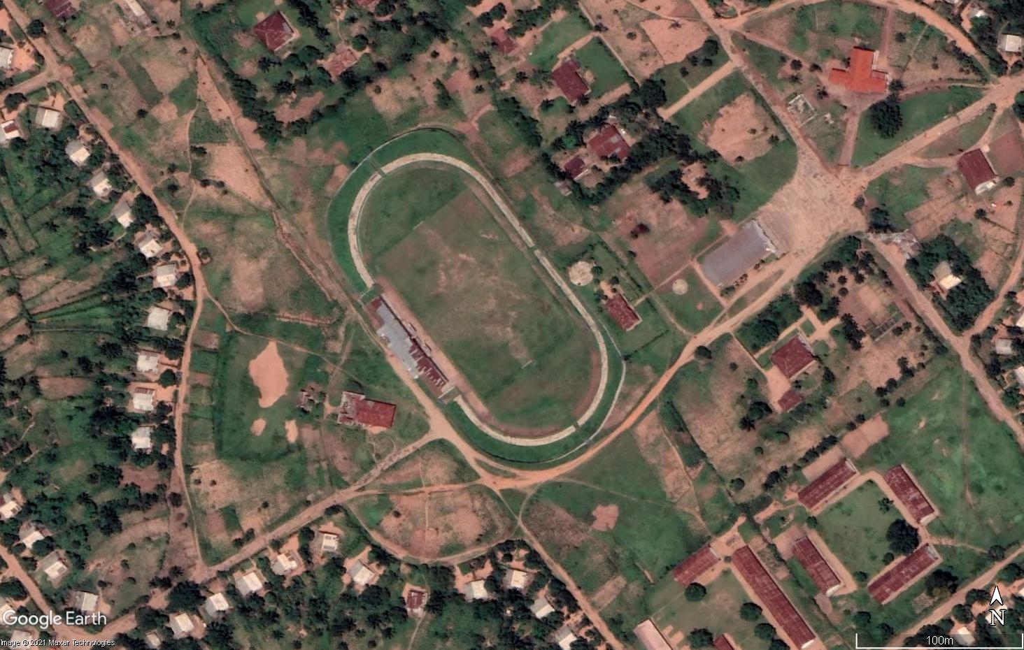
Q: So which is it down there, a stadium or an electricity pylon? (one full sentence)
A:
The image shows a stadium.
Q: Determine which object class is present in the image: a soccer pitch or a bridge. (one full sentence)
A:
This aerial view contains a soccer pitch.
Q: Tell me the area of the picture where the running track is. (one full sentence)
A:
The running track sits in the center section of the image.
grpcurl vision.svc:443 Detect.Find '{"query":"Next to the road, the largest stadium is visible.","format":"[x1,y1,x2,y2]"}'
[325,127,624,464]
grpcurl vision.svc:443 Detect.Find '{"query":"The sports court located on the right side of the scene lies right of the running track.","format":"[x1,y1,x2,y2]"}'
[842,415,886,458]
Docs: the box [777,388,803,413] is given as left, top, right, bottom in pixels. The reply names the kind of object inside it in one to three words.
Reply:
shed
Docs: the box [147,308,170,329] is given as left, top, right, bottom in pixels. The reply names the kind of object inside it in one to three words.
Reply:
house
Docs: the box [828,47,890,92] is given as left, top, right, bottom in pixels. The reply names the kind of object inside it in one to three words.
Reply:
building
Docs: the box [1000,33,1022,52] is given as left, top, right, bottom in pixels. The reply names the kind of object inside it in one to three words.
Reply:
house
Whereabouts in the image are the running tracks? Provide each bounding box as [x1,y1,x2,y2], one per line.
[360,163,599,437]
